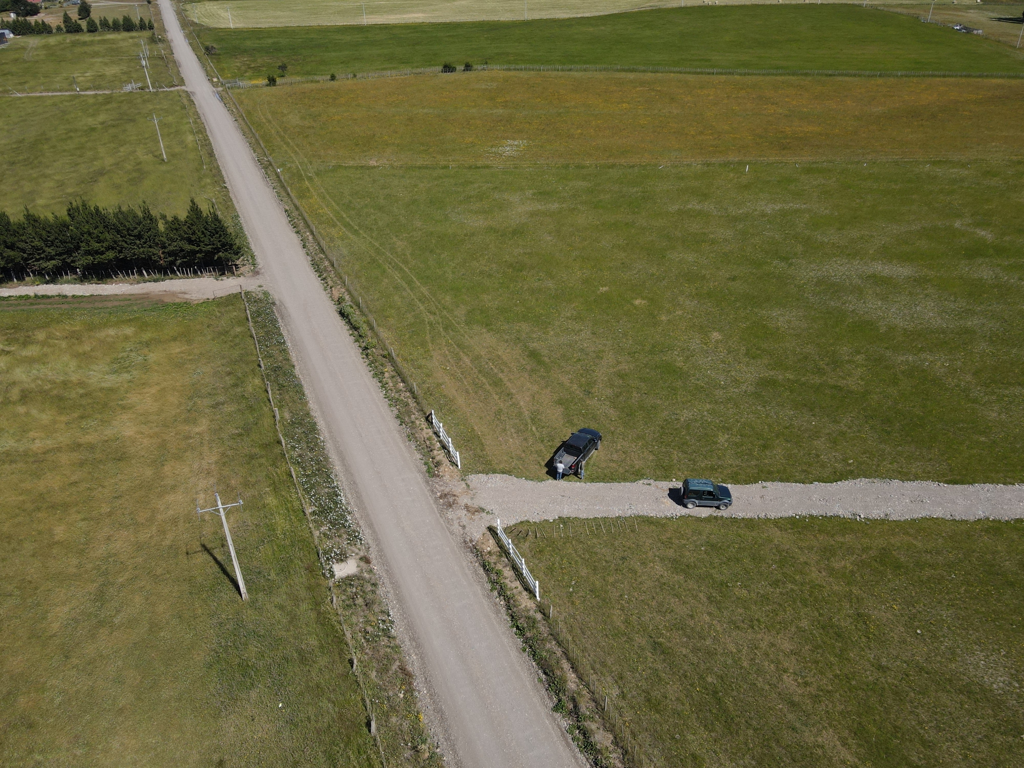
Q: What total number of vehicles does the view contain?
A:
2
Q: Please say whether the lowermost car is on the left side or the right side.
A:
right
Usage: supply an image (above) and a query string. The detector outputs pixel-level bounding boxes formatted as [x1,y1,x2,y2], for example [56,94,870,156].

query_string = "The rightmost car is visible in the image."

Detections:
[680,478,734,510]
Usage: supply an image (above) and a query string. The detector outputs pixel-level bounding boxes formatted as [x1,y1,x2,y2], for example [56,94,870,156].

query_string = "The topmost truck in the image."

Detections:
[553,429,602,472]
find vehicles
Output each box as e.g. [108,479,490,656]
[680,478,734,510]
[553,429,602,472]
